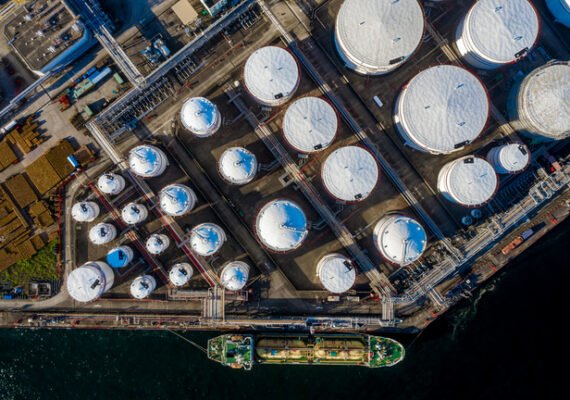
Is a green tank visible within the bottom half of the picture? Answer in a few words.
No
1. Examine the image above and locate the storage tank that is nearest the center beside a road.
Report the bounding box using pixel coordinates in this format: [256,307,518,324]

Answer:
[255,198,308,251]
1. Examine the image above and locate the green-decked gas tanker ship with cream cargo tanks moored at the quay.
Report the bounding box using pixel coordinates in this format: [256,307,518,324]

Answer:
[207,332,405,371]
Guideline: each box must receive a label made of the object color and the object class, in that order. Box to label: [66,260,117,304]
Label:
white storage tank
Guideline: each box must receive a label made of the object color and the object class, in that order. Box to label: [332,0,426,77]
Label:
white storage tank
